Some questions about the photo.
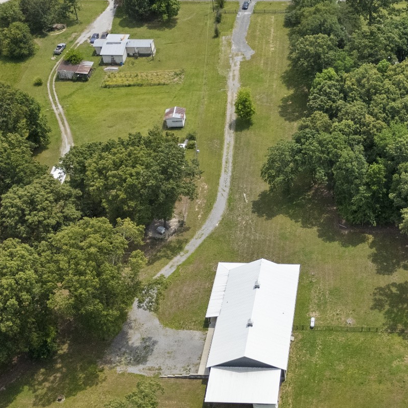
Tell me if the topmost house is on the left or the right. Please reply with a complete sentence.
The topmost house appears in the left half of the scene.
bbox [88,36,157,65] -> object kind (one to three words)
house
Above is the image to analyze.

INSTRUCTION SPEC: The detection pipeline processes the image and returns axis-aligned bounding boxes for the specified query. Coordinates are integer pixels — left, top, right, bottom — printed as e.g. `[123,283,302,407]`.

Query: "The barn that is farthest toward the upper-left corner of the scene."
[55,55,99,79]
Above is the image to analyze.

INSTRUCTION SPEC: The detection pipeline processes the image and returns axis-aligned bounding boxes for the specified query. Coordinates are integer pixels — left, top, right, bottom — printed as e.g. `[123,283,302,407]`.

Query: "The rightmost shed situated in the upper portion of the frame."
[165,108,189,127]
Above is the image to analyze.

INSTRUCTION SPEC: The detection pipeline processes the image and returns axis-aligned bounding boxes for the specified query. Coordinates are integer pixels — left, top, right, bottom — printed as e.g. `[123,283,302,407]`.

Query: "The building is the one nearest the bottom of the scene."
[204,258,300,408]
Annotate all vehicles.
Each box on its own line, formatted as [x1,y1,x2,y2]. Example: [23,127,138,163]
[242,0,250,8]
[50,42,71,54]
[92,29,105,38]
[101,28,115,37]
